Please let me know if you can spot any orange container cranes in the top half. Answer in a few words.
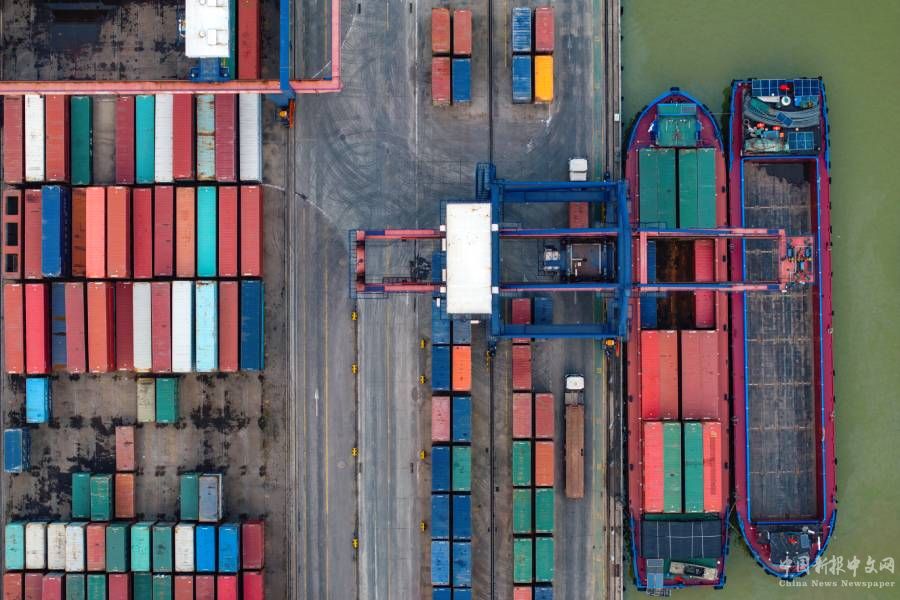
No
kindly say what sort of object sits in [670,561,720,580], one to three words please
boat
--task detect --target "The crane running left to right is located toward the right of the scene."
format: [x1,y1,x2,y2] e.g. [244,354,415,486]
[349,162,813,370]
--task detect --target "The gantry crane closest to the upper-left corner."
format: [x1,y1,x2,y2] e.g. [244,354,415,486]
[0,0,342,127]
